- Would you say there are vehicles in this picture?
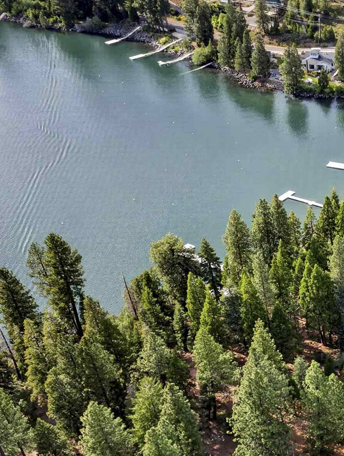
No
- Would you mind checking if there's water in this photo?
Yes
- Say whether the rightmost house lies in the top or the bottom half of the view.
top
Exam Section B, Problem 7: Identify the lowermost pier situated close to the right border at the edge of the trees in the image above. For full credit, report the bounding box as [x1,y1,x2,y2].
[277,189,337,210]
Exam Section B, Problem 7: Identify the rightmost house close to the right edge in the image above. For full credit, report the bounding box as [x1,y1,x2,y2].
[298,47,337,76]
